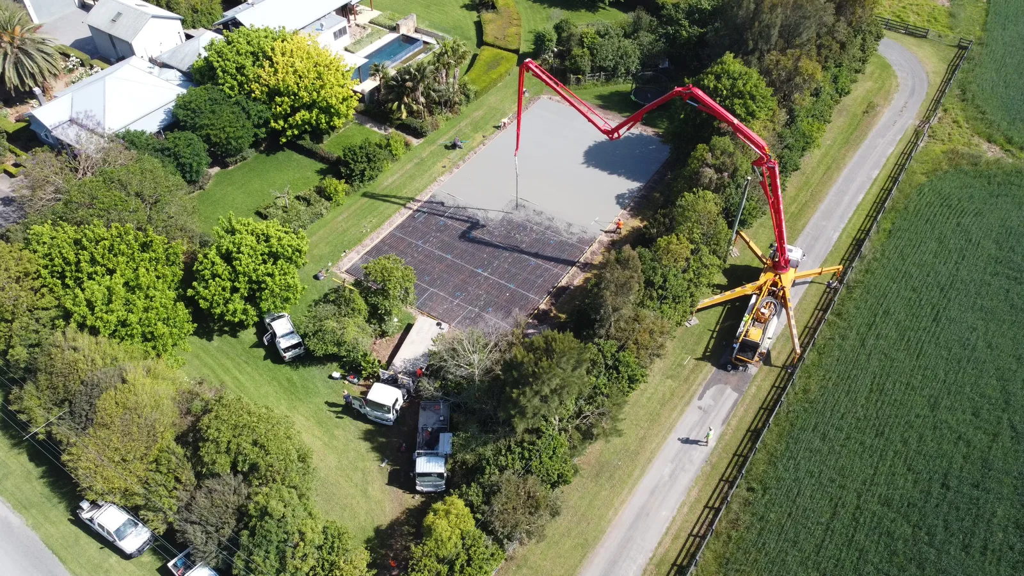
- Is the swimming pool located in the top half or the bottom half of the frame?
top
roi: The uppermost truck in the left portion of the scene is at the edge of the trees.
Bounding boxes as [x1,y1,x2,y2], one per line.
[255,306,306,361]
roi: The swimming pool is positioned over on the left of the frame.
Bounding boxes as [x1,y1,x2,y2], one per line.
[347,30,439,84]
